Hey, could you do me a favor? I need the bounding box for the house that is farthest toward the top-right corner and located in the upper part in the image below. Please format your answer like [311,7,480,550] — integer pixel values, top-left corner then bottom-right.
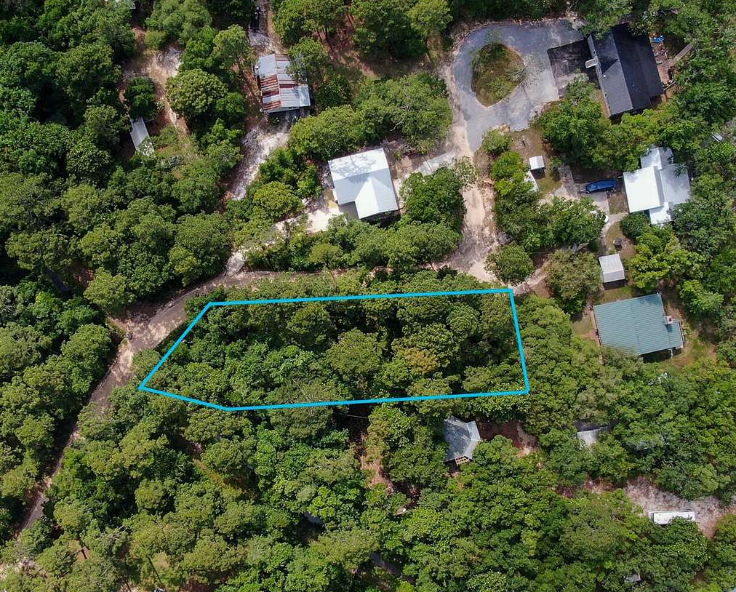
[577,29,666,116]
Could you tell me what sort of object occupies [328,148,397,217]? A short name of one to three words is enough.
house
